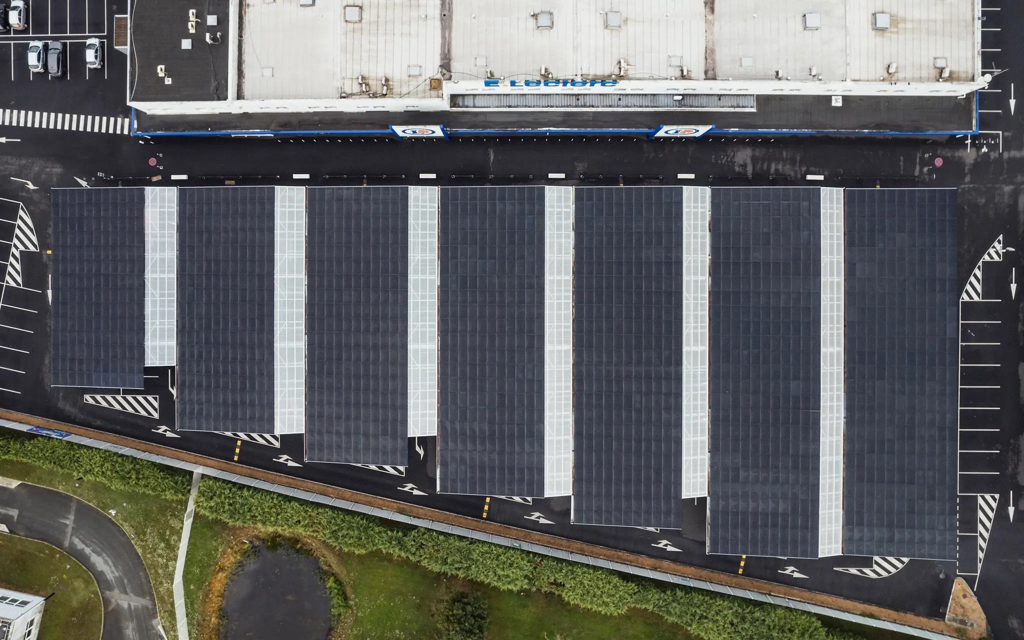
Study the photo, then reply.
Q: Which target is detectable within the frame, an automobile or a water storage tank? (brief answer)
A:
automobile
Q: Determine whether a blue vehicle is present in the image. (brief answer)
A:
No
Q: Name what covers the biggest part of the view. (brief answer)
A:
buildings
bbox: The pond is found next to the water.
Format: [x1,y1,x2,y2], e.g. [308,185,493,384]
[218,541,334,640]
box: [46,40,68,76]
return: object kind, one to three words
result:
car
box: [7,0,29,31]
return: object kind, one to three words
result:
car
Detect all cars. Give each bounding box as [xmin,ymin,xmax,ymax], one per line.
[0,0,11,34]
[84,38,105,69]
[46,40,68,76]
[7,0,29,31]
[26,41,47,73]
